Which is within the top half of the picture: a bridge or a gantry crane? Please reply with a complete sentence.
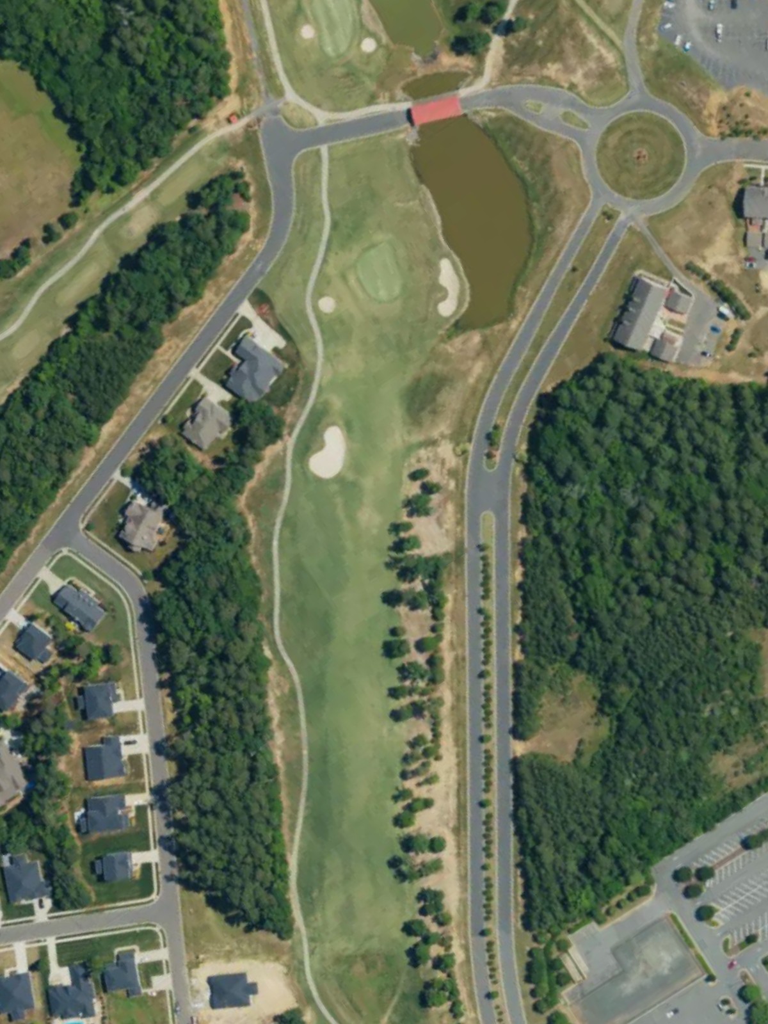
The one visible within the top half of the picture is a bridge.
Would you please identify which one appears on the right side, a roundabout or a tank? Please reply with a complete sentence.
Visible on the right side is a roundabout.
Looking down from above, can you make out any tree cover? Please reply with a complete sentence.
Yes, there is tree cover in the image.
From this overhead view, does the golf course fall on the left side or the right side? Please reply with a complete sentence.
It is on the left.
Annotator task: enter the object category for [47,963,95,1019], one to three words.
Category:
house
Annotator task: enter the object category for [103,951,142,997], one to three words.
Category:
house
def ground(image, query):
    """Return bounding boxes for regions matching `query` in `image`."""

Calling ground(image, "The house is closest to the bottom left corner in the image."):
[0,972,36,1021]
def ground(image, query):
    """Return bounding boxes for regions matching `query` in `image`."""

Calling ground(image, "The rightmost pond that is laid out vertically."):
[412,114,531,330]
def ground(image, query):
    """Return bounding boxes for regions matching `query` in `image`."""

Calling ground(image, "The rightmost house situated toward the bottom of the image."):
[207,974,260,1008]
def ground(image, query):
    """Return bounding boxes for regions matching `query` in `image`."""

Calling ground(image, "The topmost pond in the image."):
[368,0,442,56]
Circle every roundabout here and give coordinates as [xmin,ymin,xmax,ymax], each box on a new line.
[583,98,699,213]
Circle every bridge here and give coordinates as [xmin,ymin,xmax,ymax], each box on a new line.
[409,89,463,127]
